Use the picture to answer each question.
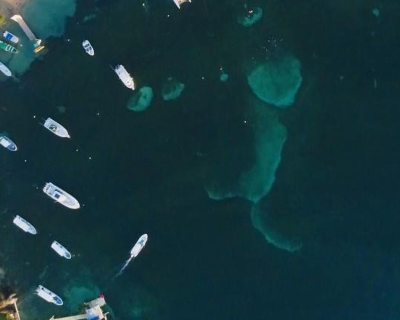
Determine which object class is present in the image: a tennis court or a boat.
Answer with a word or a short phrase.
boat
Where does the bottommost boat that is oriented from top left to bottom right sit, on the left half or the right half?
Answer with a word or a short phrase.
left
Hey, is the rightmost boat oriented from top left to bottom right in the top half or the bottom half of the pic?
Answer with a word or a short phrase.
top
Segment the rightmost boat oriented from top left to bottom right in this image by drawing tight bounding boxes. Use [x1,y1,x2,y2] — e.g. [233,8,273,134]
[114,61,136,90]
